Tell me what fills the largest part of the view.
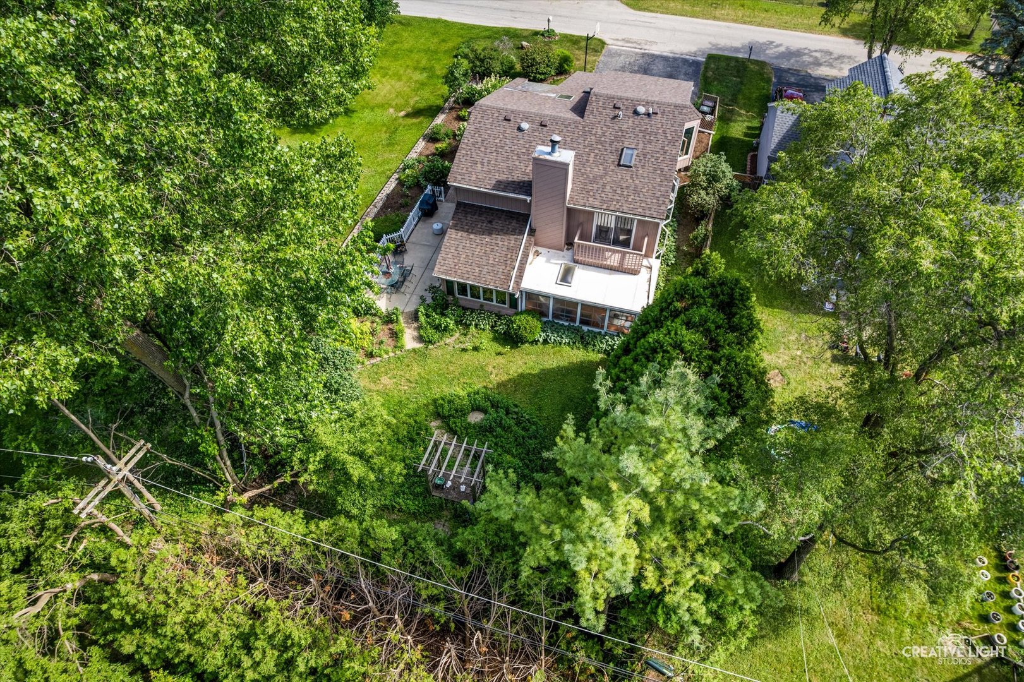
trees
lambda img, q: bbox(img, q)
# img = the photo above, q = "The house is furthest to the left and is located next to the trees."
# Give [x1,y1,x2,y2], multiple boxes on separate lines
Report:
[431,69,702,338]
